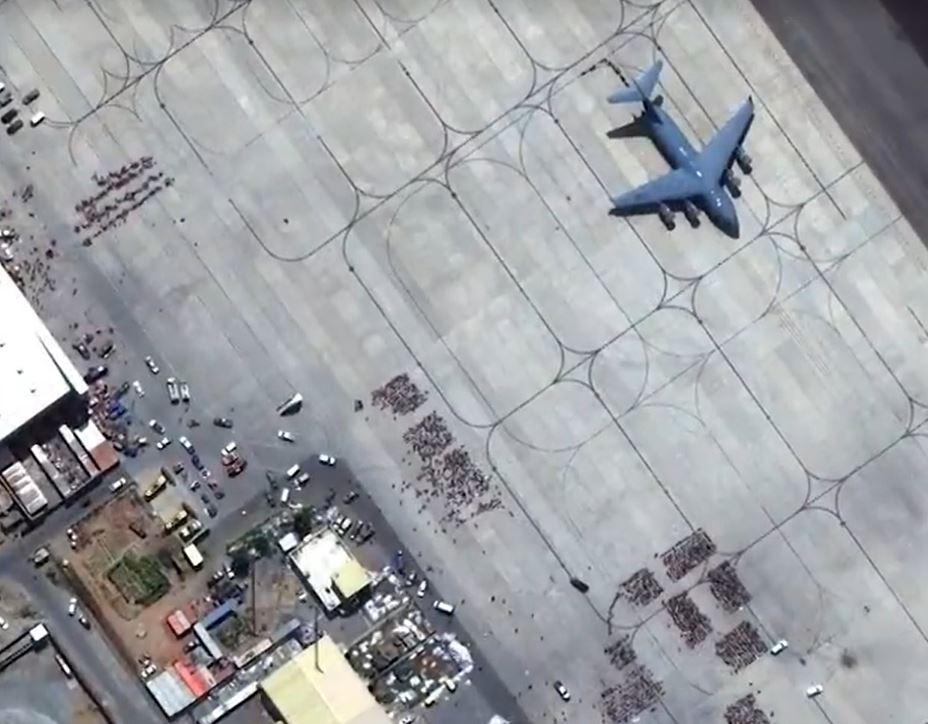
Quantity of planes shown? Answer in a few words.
1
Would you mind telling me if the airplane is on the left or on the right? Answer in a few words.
right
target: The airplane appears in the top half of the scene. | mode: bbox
[607,62,755,234]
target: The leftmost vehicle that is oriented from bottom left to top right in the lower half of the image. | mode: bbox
[32,549,49,563]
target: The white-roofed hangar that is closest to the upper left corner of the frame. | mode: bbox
[0,253,86,439]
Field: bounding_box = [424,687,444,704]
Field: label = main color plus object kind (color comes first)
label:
white vehicle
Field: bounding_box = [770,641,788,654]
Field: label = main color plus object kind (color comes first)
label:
white vehicle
